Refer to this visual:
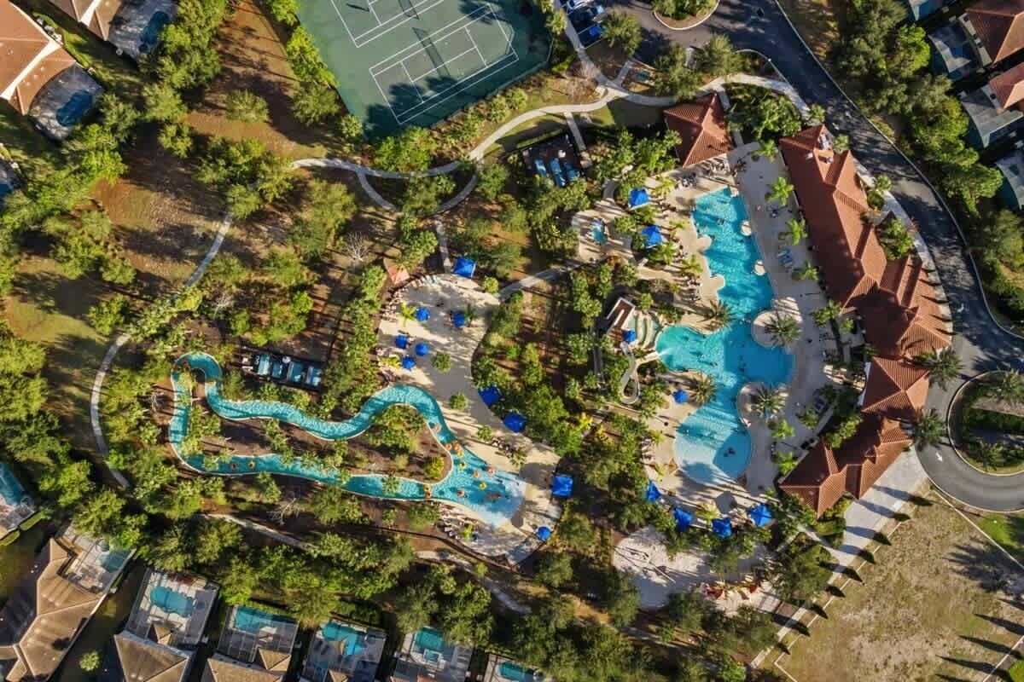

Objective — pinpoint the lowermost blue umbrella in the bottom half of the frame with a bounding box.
[536,526,551,540]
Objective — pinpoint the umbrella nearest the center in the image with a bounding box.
[453,312,466,326]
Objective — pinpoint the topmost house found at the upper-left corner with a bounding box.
[49,0,132,42]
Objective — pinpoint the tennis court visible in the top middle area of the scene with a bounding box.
[300,0,552,139]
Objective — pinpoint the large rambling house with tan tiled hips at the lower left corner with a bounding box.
[0,539,109,682]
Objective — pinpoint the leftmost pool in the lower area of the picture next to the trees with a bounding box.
[0,463,24,504]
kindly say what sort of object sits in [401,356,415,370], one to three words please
umbrella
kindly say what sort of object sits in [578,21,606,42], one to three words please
car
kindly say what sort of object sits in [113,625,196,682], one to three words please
house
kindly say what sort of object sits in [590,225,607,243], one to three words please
swimming pool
